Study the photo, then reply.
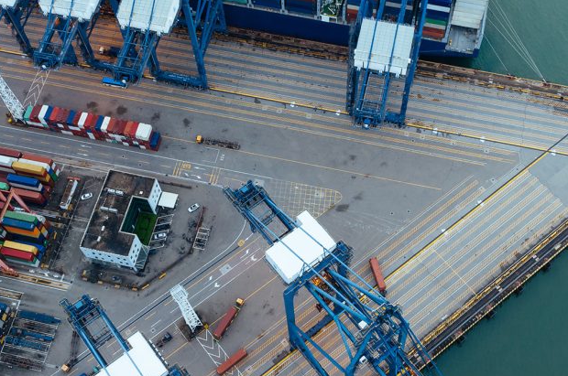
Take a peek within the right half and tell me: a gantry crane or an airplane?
gantry crane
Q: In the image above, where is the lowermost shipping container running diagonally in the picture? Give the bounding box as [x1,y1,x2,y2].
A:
[215,348,247,376]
